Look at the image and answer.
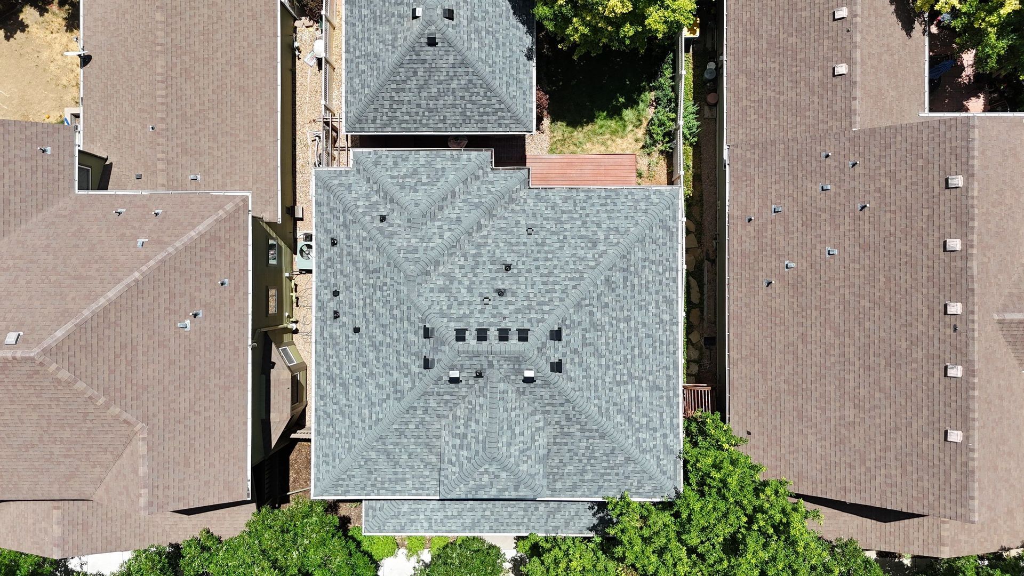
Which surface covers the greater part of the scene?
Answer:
buildings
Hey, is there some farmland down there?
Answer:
No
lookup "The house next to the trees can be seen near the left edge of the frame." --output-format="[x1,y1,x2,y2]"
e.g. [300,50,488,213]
[0,0,307,558]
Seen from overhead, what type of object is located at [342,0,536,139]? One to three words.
building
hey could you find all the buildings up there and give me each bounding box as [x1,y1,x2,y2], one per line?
[311,148,685,537]
[0,0,307,558]
[712,0,1024,558]
[342,0,536,139]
